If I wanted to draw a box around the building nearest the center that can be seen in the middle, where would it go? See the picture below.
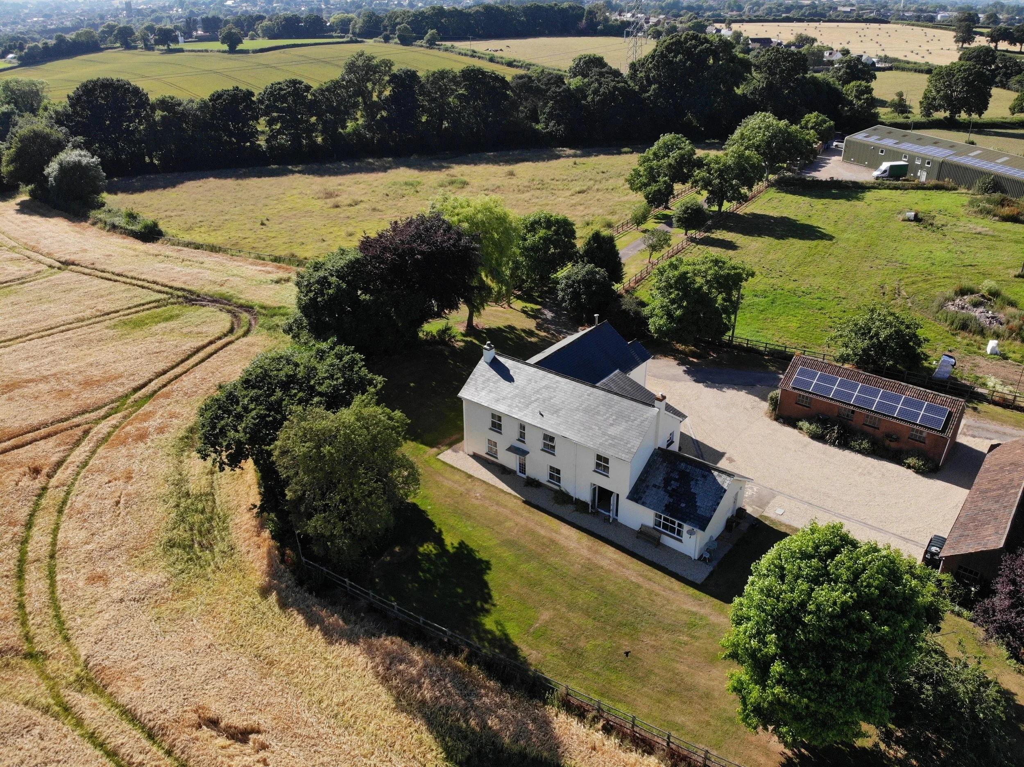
[458,309,751,558]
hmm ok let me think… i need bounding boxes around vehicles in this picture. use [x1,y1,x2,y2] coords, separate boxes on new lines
[906,512,957,570]
[872,160,919,182]
[828,141,844,152]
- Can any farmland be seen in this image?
Yes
